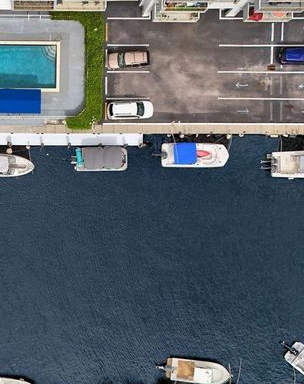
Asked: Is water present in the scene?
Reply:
Yes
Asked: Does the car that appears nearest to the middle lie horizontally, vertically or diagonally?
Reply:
horizontally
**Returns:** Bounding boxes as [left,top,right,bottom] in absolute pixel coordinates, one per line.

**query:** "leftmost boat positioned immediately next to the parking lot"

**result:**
[67,147,126,172]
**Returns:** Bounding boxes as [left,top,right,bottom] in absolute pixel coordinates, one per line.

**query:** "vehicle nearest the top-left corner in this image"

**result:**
[107,49,148,70]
